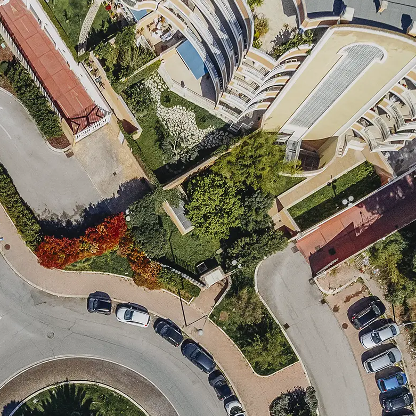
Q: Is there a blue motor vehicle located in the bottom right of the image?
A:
Yes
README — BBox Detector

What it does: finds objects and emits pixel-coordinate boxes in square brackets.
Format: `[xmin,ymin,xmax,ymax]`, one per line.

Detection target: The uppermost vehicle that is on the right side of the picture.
[347,301,387,329]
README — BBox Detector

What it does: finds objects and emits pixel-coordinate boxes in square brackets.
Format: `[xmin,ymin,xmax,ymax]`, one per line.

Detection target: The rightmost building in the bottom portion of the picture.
[197,262,228,290]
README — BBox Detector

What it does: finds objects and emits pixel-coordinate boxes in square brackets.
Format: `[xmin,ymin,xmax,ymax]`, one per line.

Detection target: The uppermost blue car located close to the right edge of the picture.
[373,370,409,392]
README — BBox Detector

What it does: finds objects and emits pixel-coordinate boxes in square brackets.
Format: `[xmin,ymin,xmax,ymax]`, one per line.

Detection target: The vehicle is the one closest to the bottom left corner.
[87,296,111,313]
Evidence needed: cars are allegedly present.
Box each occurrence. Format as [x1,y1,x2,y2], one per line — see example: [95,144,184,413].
[378,391,414,411]
[87,296,111,313]
[357,321,400,350]
[179,341,217,374]
[347,301,387,329]
[208,367,235,401]
[151,319,187,349]
[113,305,152,328]
[224,399,245,416]
[373,370,409,392]
[360,346,402,374]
